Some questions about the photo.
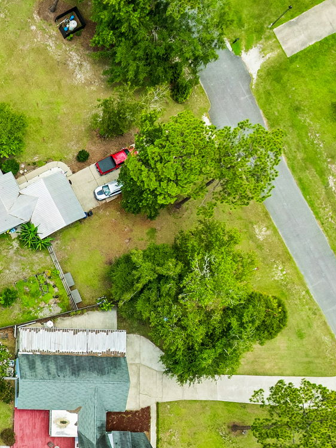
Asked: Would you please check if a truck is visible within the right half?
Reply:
No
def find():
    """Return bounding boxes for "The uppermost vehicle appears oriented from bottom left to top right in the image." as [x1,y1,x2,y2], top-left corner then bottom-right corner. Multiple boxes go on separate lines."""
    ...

[94,145,129,174]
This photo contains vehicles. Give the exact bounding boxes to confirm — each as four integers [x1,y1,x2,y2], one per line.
[94,145,129,174]
[96,174,130,201]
